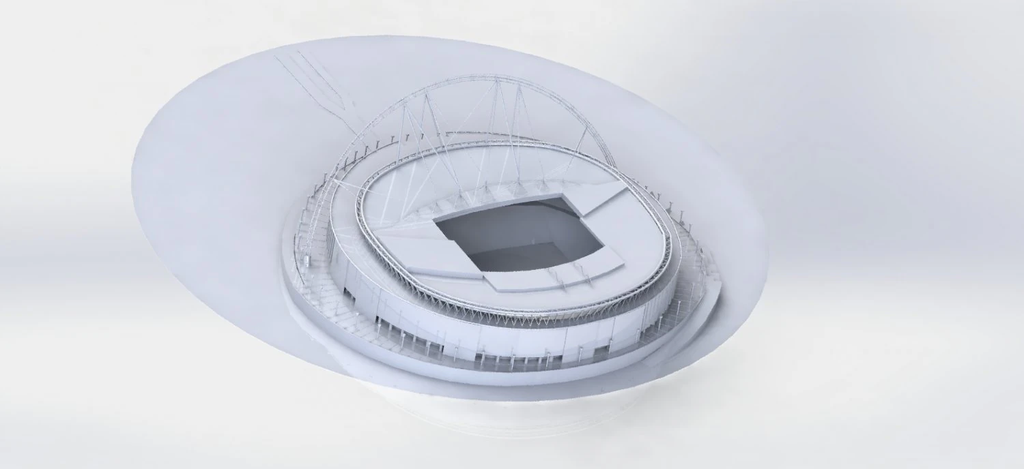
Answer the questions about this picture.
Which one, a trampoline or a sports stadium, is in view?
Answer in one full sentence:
It is a sports stadium that can be seen here.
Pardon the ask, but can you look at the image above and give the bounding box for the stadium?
[323,131,683,364]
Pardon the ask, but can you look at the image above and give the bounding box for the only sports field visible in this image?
[468,243,569,272]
